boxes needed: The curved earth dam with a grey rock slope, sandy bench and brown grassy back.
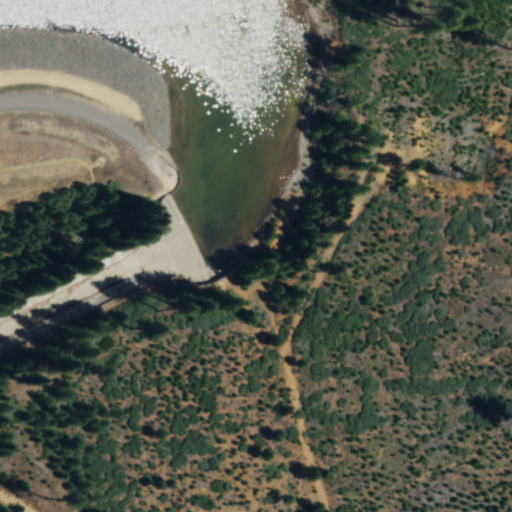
[0,28,170,211]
